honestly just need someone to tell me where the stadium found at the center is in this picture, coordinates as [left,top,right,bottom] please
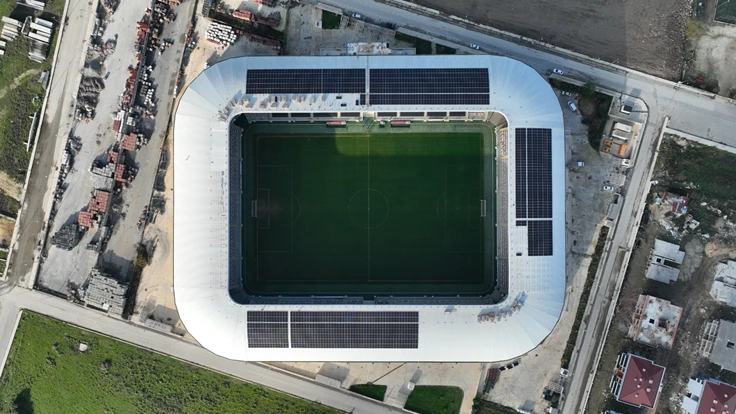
[172,55,566,362]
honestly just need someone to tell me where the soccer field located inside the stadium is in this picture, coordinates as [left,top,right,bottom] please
[242,120,495,296]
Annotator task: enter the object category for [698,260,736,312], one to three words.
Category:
house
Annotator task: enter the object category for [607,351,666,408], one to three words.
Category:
house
